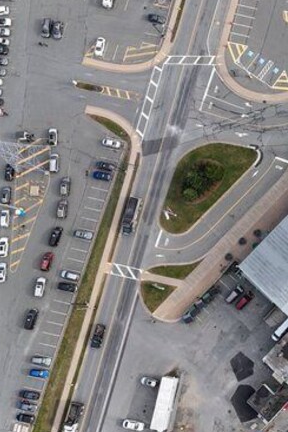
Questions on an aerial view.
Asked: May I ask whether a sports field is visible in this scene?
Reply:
No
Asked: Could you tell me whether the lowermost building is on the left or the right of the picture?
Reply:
right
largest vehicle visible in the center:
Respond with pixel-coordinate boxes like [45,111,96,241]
[121,196,142,233]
